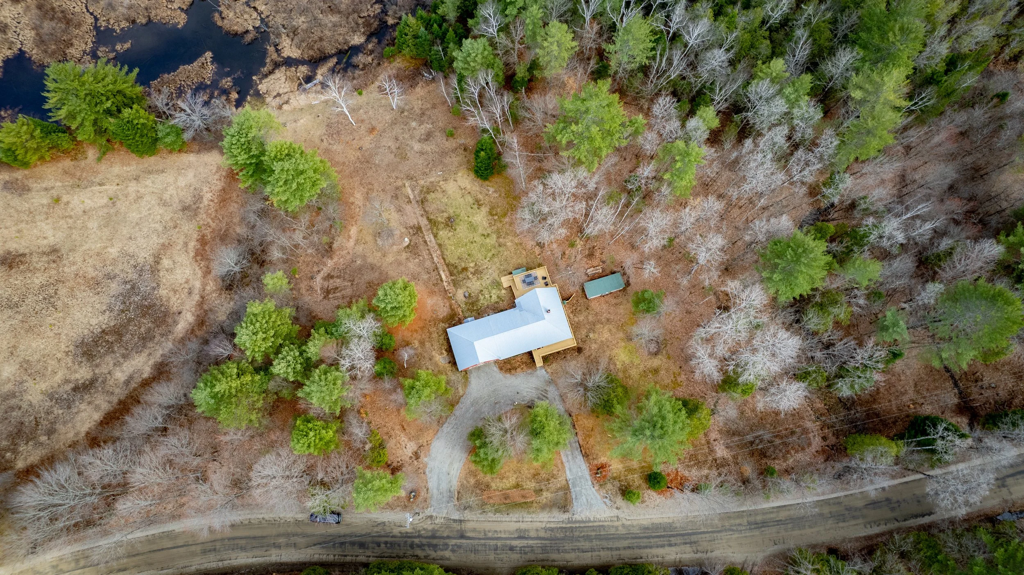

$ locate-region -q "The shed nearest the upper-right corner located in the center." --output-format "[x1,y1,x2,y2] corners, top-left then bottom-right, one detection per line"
[583,273,625,301]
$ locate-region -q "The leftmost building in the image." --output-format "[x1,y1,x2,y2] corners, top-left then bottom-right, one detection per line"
[447,288,573,372]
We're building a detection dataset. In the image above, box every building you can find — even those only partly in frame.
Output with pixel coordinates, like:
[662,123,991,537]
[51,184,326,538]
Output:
[447,288,573,372]
[583,273,625,301]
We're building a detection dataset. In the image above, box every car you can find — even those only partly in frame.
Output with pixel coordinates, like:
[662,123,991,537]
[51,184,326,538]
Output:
[309,512,343,527]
